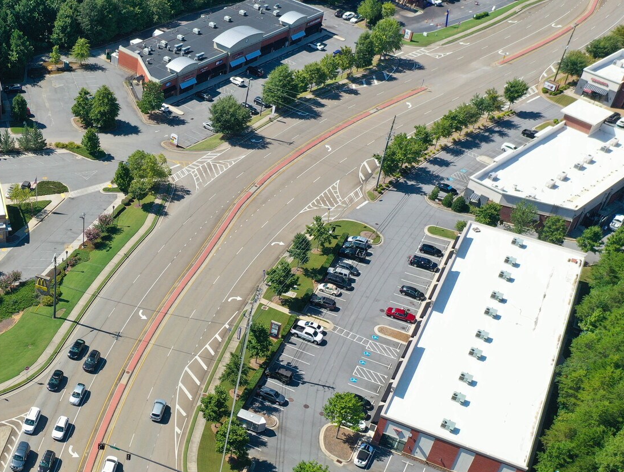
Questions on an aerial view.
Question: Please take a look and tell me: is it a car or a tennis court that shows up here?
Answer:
car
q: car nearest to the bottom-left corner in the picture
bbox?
[13,442,30,470]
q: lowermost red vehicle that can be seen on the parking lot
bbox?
[387,309,415,323]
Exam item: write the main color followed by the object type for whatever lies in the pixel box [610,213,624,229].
white vehicle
